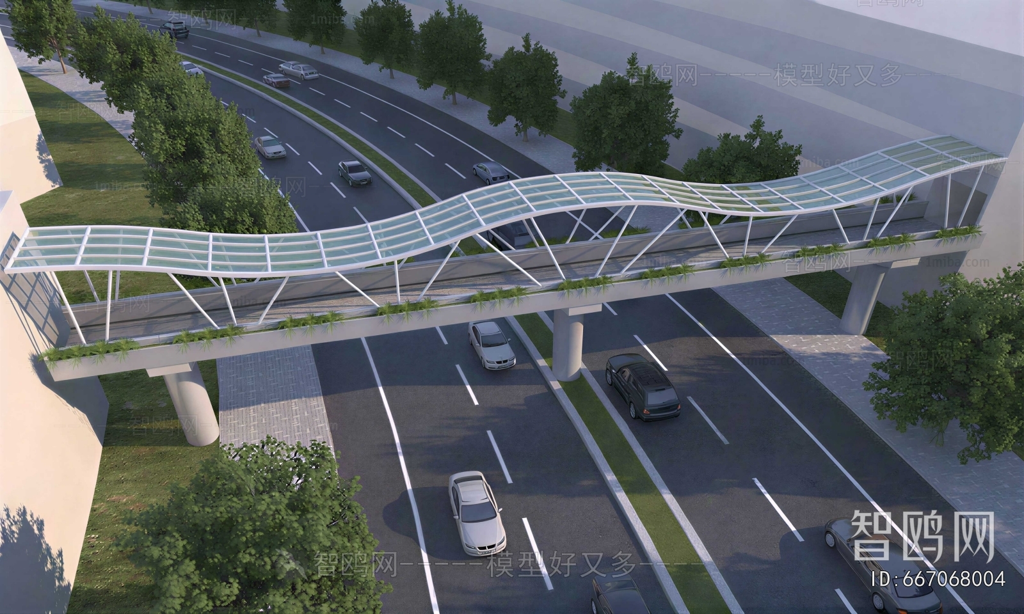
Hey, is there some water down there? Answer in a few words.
No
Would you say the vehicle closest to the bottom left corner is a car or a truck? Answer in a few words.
car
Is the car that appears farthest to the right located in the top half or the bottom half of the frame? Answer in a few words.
bottom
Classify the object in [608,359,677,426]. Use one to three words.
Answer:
car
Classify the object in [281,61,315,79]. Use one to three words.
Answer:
car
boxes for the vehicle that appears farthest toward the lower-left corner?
[443,460,504,552]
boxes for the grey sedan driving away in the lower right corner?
[828,514,942,614]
